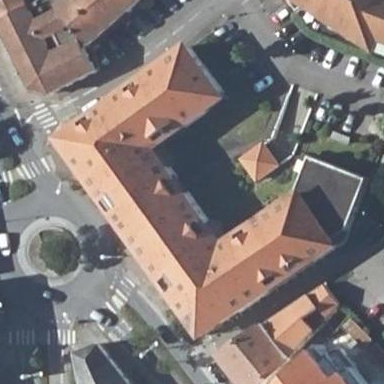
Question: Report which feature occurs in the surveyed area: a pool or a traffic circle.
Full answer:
Of the two, only a traffic circle appears.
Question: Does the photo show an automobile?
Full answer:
Yes, you can see an automobile in this photo.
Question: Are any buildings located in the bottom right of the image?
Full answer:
Yes, you'll find a building in the bottom right of the image.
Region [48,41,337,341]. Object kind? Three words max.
building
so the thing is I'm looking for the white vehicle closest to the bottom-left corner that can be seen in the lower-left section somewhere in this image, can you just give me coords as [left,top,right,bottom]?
[92,311,112,326]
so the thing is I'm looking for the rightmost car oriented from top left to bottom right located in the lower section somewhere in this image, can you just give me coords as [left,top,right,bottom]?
[158,324,178,344]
